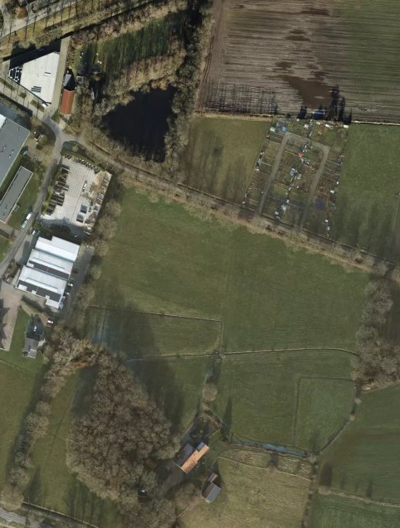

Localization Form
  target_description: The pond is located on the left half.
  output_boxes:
[99,85,178,164]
